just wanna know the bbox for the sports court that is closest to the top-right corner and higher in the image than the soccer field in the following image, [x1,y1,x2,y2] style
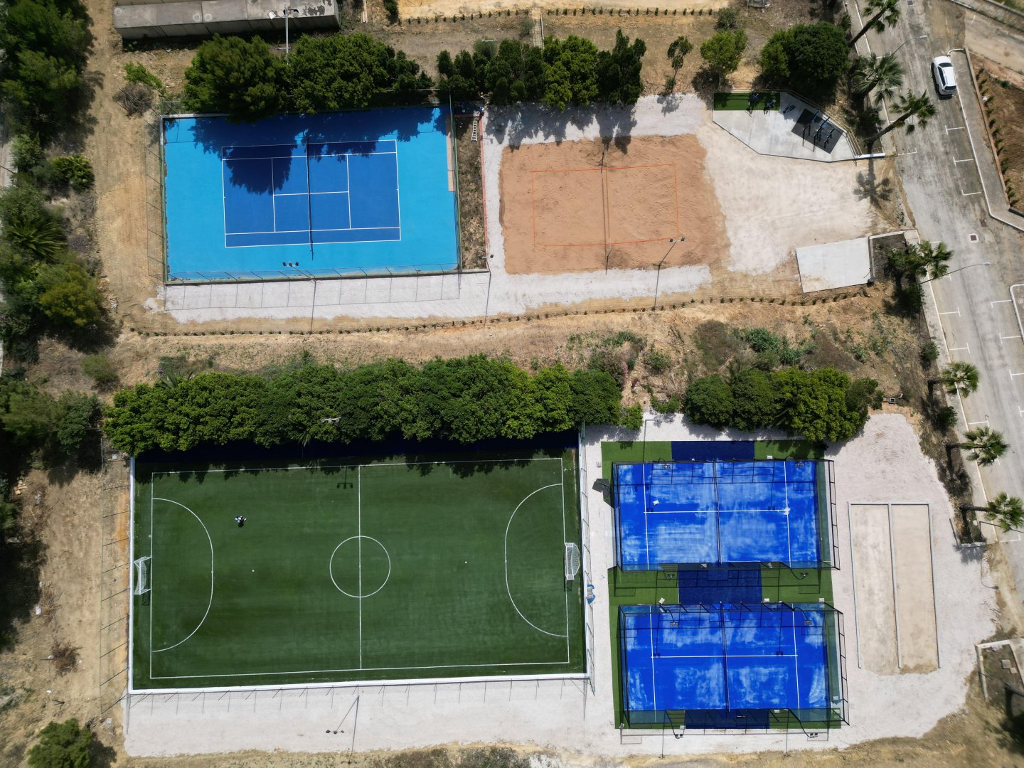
[499,133,733,275]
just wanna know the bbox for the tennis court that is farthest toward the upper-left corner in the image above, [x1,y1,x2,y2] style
[161,105,460,283]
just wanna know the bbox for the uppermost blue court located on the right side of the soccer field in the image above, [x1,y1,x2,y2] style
[612,459,840,573]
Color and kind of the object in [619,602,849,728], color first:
blue sports court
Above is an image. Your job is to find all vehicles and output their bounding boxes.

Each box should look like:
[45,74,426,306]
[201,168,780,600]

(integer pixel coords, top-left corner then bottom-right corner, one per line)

[931,56,962,98]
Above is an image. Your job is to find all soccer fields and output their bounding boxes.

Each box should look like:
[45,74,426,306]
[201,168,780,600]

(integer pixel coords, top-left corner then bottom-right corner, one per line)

[134,427,585,688]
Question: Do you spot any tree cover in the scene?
Yes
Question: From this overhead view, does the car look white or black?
white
